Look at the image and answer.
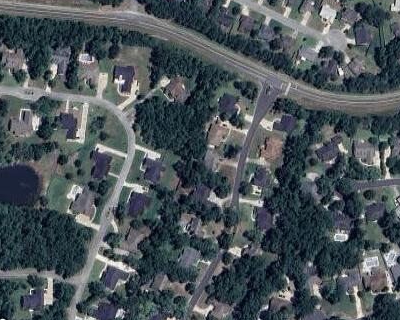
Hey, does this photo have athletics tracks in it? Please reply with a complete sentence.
No, I can see no athletics track in this picture.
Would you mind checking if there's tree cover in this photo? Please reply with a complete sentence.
Yes, there is tree cover in the image.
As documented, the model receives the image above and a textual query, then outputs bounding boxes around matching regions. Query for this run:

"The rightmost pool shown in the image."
[383,247,398,264]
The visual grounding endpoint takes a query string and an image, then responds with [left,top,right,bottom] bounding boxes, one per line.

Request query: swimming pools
[363,254,380,269]
[335,233,347,242]
[69,183,81,199]
[80,53,92,61]
[383,247,398,264]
